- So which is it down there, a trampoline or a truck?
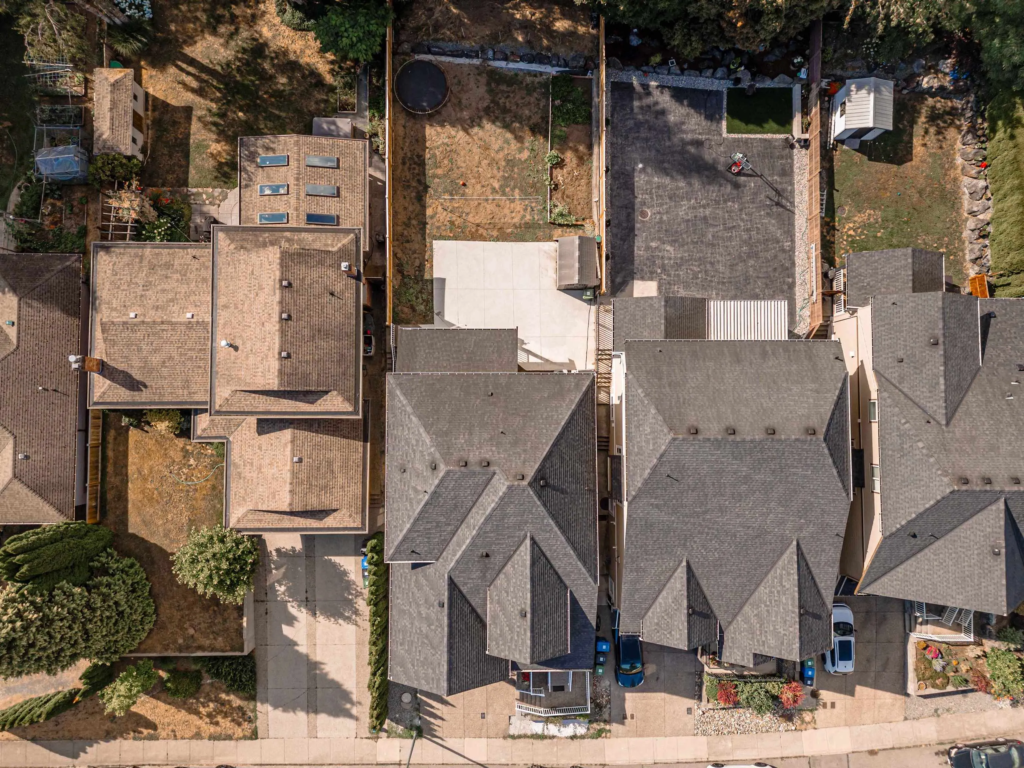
trampoline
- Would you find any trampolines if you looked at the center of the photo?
No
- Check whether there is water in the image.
No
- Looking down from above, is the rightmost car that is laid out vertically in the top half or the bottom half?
bottom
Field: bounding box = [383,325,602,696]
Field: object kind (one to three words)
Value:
house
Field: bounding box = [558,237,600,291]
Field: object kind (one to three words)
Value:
shed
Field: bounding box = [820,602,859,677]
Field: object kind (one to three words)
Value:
car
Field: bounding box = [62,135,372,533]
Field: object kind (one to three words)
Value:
house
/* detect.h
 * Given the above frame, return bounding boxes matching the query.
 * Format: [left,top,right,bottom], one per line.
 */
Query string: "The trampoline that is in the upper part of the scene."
[395,59,450,117]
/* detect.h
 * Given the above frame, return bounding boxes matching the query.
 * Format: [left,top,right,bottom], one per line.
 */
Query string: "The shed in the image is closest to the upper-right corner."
[834,75,894,137]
